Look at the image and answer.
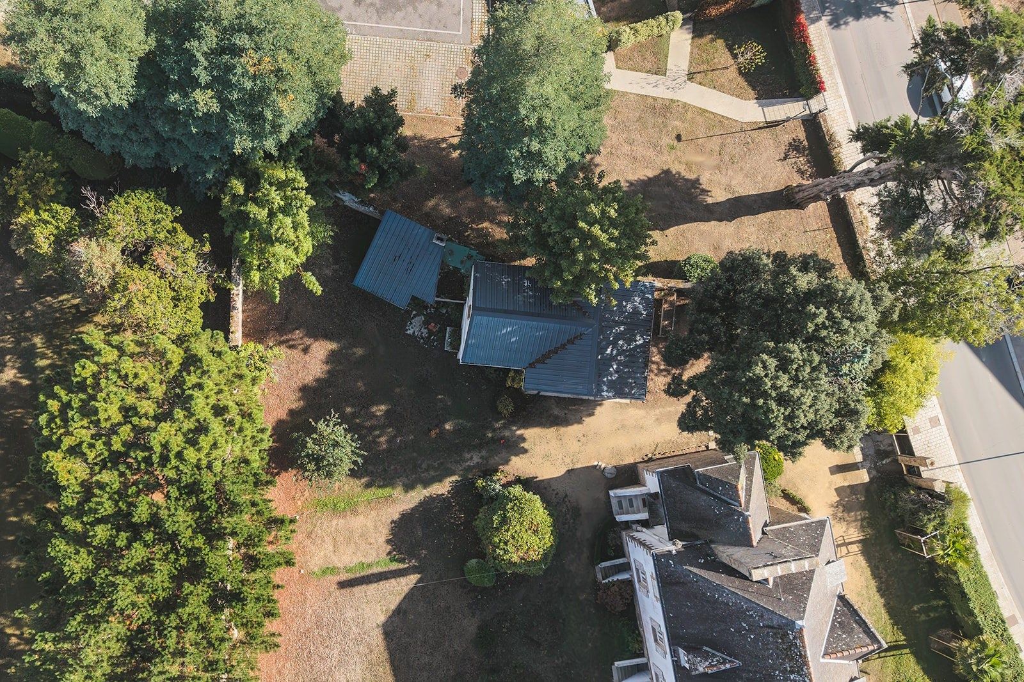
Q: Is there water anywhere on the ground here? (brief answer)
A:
No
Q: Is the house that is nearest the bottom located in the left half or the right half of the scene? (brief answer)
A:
right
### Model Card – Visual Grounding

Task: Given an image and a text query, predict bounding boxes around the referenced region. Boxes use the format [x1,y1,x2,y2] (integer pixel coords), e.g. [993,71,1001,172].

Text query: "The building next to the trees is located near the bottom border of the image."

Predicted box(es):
[589,448,889,682]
